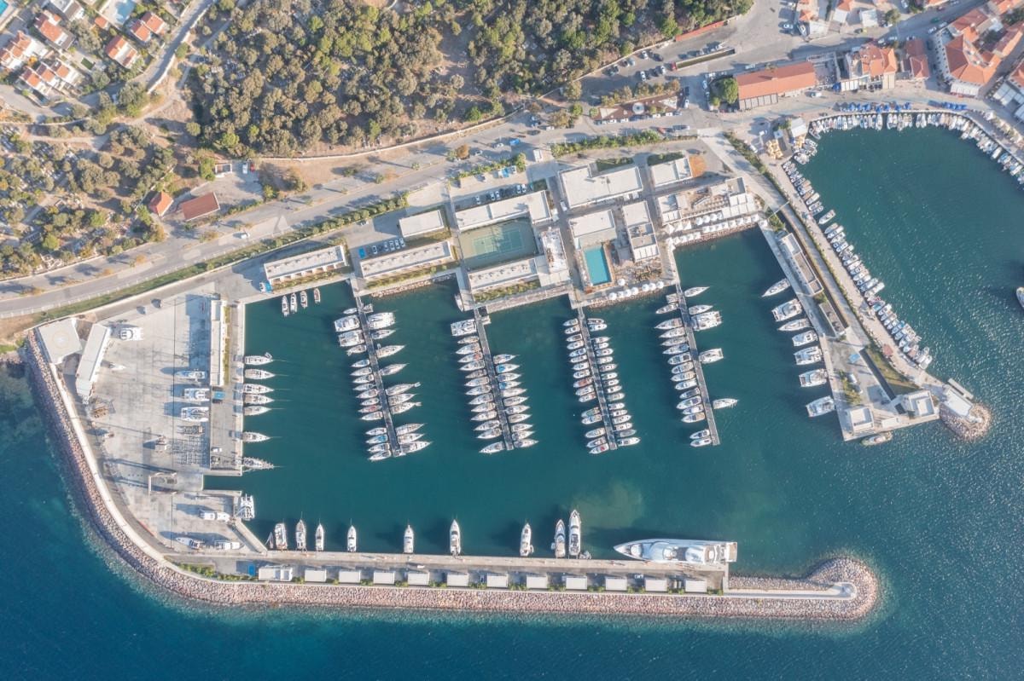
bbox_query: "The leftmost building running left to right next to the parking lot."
[264,246,349,283]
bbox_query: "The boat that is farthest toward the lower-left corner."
[168,537,205,553]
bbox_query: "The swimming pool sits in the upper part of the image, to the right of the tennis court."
[579,241,616,289]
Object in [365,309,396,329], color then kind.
white boat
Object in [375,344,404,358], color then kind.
white boat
